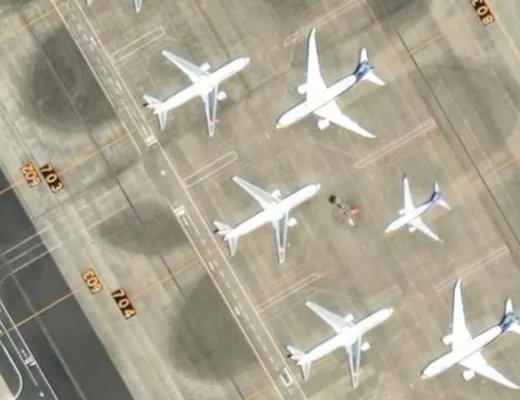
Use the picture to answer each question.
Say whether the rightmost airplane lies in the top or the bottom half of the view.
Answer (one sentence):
The rightmost airplane sits in the bottom half of the picture.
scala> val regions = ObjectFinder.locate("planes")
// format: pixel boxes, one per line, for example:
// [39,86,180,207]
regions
[286,302,393,387]
[386,173,452,239]
[422,278,520,387]
[277,29,386,136]
[215,178,320,262]
[144,52,249,134]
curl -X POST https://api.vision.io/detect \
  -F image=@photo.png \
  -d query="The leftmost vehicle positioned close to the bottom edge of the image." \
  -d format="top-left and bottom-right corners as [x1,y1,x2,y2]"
[279,369,292,385]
